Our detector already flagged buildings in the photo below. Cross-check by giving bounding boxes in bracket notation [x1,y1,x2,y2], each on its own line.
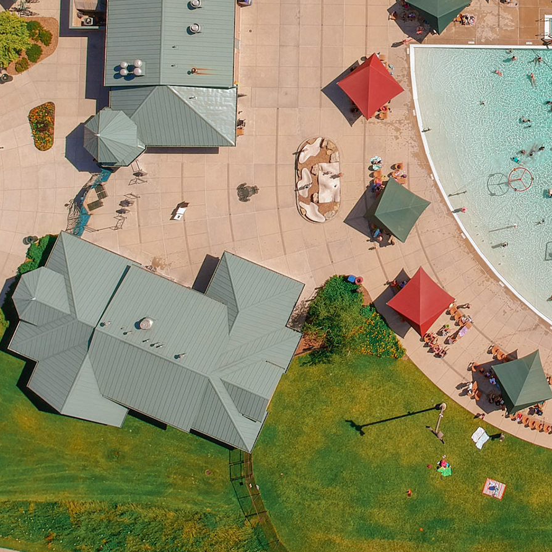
[7,231,304,453]
[83,0,241,166]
